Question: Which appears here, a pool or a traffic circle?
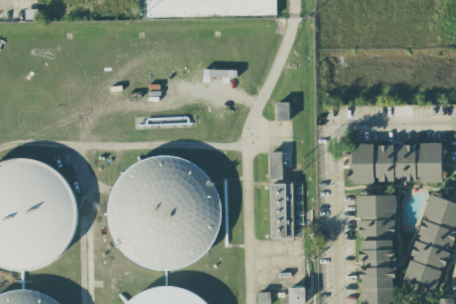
pool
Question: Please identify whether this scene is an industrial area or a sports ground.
industrial area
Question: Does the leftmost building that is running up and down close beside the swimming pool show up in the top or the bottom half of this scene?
bottom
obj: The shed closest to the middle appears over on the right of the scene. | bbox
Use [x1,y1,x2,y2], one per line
[270,152,284,180]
